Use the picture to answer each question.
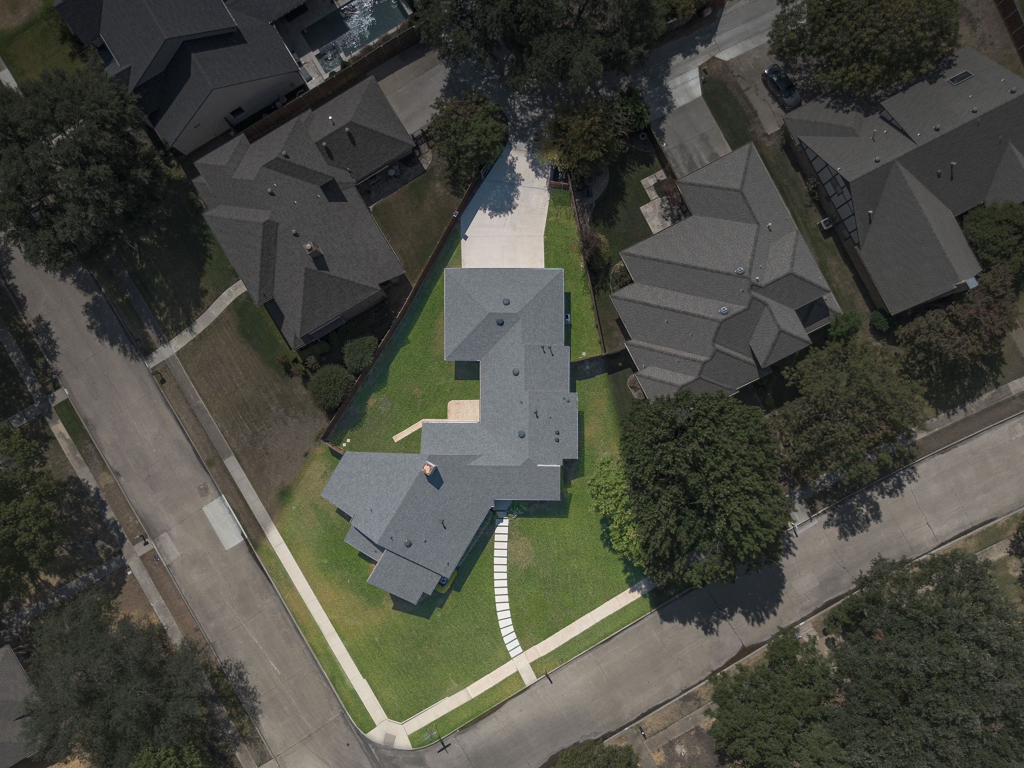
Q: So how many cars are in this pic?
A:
1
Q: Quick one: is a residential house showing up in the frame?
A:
Yes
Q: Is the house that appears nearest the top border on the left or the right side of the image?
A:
left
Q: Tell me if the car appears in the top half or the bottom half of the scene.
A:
top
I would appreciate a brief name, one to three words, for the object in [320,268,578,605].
house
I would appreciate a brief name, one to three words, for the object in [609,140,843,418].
house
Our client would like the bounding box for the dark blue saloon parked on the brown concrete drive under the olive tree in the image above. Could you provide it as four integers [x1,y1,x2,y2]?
[764,61,803,112]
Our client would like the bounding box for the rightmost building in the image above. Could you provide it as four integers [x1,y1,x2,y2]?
[775,46,1024,316]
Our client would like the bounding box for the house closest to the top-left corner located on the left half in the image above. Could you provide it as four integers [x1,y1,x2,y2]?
[56,0,310,154]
